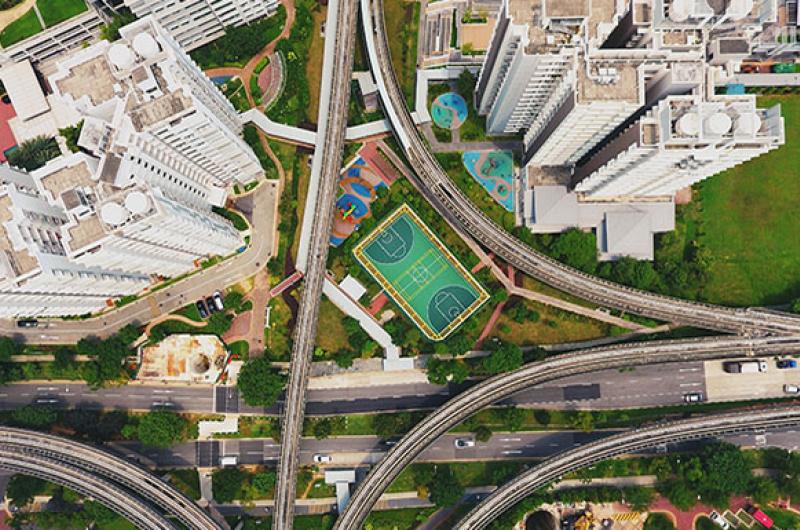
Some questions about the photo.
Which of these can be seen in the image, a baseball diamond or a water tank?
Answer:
water tank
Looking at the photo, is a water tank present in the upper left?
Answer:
Yes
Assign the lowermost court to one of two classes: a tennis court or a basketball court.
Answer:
basketball court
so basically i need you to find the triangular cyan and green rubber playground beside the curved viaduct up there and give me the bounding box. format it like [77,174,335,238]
[462,149,514,211]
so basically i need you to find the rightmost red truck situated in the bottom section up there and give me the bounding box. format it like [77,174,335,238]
[748,505,778,530]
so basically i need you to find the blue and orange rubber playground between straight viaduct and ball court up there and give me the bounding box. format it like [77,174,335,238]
[331,141,398,246]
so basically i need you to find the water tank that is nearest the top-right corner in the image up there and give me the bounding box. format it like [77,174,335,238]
[716,0,757,28]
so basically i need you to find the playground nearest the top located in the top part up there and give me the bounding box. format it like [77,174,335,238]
[431,91,467,129]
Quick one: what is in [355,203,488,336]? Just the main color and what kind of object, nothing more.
green basketball court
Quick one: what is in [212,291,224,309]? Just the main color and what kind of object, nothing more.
white vehicle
